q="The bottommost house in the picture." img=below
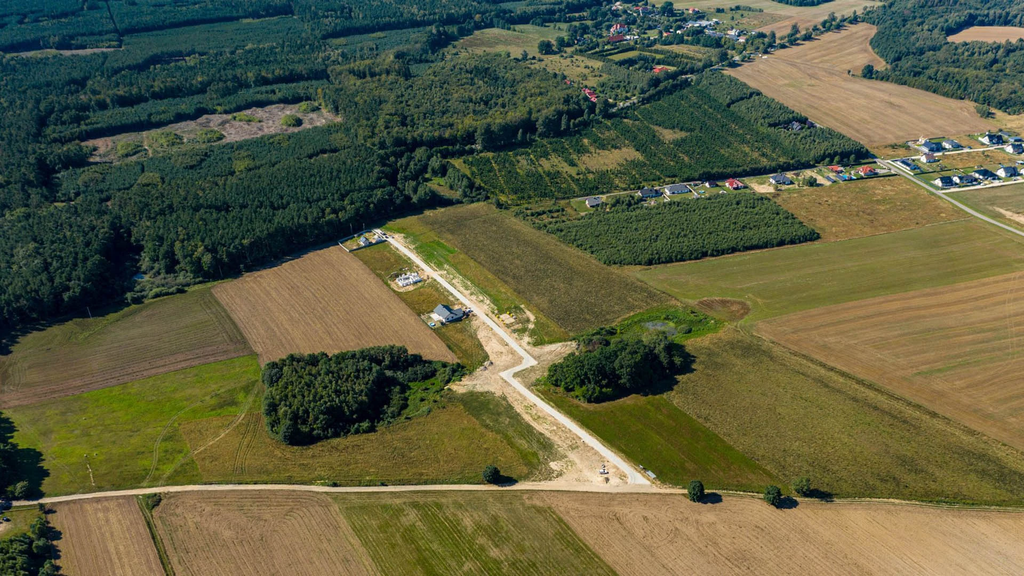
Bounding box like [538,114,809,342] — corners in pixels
[429,304,466,325]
